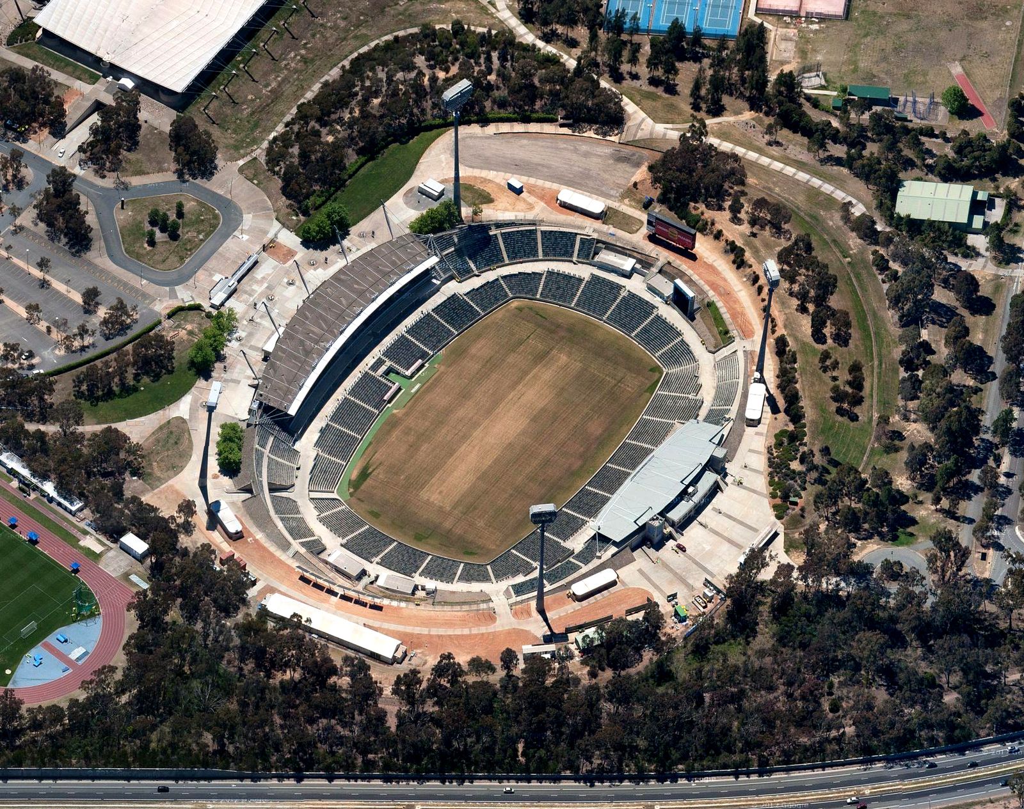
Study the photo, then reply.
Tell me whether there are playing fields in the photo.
Yes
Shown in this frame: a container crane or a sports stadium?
sports stadium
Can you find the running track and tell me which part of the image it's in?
bottom left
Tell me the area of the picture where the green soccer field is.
bottom left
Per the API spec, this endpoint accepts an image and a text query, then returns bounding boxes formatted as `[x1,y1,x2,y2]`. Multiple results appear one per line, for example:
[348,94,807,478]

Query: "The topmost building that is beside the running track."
[0,453,84,516]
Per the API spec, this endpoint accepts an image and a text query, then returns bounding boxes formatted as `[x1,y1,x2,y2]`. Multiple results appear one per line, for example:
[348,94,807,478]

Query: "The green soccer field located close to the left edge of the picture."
[0,521,102,688]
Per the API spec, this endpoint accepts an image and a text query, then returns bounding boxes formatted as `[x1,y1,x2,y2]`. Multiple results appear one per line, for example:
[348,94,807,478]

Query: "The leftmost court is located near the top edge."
[604,0,744,39]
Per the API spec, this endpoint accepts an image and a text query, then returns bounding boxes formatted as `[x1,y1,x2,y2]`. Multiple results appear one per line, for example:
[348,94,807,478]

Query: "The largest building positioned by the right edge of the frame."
[895,180,973,231]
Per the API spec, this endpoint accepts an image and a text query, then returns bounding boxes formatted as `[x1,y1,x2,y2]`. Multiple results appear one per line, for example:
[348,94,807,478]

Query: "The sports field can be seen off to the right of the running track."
[337,299,665,563]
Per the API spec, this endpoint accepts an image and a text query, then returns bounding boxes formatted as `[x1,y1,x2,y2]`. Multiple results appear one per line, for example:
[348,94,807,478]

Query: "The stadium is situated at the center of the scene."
[225,202,751,611]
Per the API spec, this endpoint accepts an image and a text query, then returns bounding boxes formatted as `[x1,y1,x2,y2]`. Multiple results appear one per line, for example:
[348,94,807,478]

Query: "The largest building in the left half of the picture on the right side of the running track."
[267,593,402,665]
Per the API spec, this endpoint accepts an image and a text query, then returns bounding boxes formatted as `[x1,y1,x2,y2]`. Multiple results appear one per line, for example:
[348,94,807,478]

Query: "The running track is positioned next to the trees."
[0,495,132,707]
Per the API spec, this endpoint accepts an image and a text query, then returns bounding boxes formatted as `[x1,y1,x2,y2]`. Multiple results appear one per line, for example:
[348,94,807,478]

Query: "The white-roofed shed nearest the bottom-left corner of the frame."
[119,532,150,562]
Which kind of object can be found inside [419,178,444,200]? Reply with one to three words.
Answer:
shed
